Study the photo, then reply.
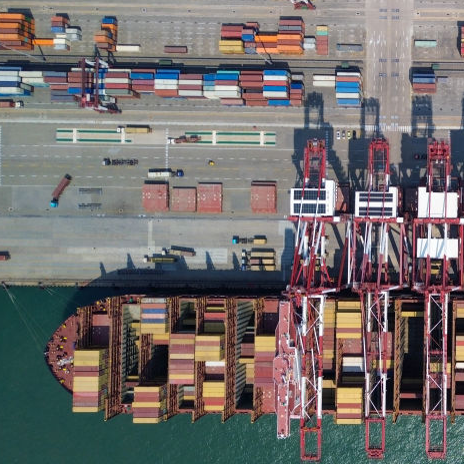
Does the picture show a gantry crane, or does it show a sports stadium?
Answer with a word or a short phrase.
gantry crane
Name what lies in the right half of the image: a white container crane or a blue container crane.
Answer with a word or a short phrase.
white container crane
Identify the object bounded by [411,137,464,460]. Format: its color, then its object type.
white container crane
